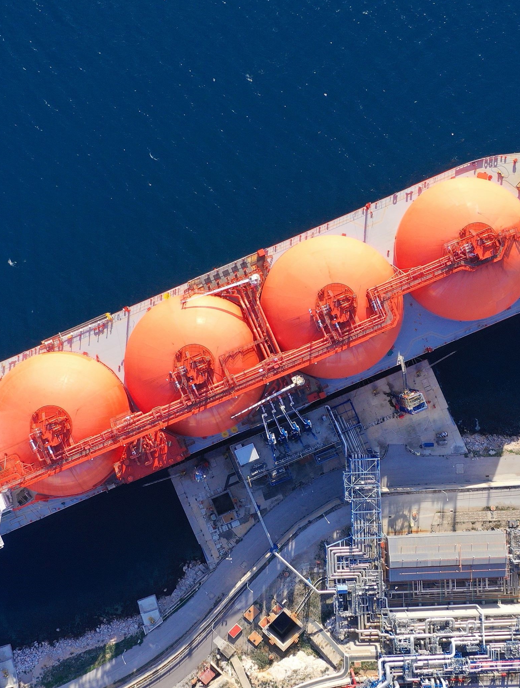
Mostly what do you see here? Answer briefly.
water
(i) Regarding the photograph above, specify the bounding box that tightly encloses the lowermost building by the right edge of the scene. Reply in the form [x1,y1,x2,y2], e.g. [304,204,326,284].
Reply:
[386,531,507,581]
